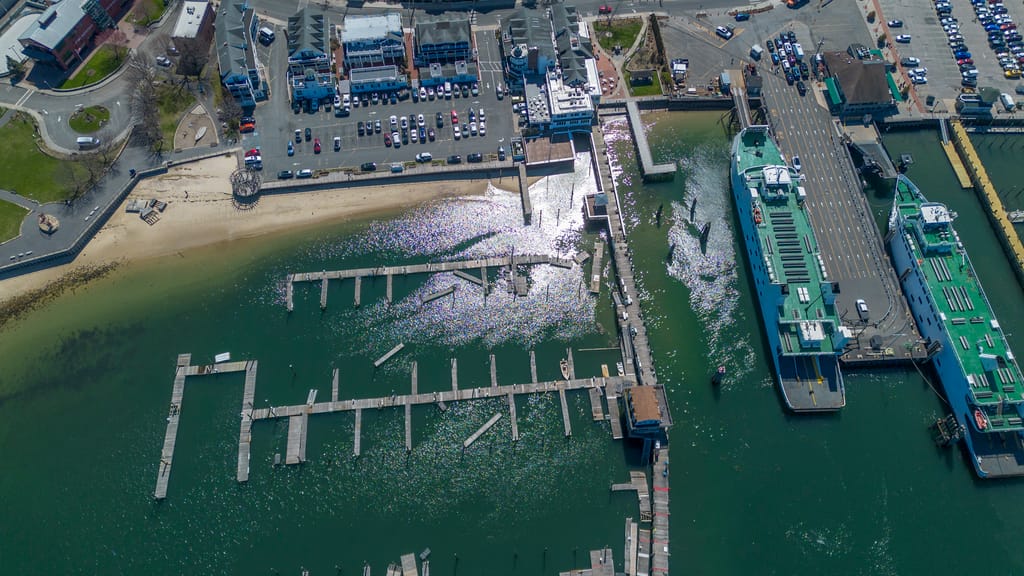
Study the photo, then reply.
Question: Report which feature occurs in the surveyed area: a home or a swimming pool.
home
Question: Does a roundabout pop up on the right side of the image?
No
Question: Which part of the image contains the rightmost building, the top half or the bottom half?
top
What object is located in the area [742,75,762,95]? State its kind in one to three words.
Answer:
shed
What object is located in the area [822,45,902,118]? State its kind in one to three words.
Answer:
building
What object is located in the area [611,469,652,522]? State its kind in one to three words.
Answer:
pier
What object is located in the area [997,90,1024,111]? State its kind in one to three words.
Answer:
vehicle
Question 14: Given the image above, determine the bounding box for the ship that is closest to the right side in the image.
[887,171,1024,478]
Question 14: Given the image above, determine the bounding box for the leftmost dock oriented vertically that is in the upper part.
[518,163,532,220]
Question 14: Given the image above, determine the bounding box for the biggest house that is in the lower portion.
[621,383,674,462]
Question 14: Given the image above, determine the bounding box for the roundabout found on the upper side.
[66,106,111,134]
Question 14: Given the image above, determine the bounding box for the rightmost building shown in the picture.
[946,86,1001,121]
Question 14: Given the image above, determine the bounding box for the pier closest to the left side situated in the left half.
[154,353,258,500]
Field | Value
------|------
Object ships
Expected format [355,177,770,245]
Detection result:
[887,171,1024,478]
[733,125,854,414]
